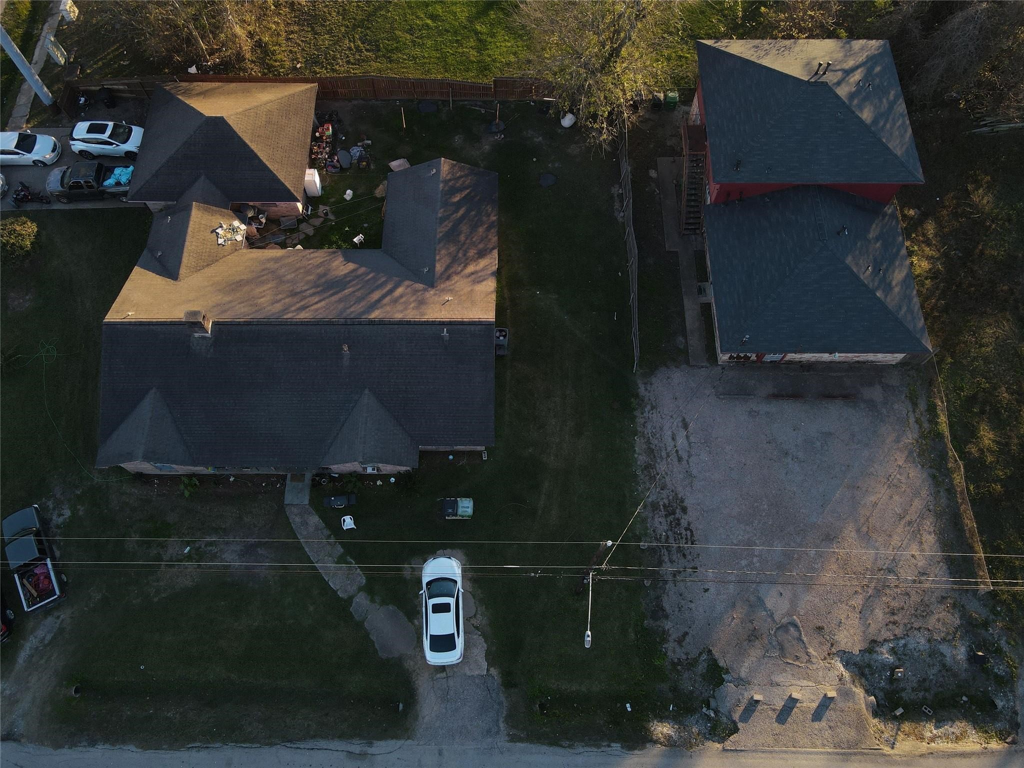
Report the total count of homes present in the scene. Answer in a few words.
2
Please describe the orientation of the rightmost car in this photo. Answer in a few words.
up and down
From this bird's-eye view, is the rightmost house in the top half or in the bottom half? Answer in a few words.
top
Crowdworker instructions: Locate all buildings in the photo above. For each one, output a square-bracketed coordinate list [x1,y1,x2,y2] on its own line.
[687,39,935,379]
[95,158,498,479]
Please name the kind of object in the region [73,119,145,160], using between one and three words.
car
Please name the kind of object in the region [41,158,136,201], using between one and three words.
truck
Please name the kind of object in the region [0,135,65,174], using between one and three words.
car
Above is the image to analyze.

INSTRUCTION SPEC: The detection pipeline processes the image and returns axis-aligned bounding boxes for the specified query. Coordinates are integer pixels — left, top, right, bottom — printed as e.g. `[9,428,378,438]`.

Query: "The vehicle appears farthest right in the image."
[418,554,465,669]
